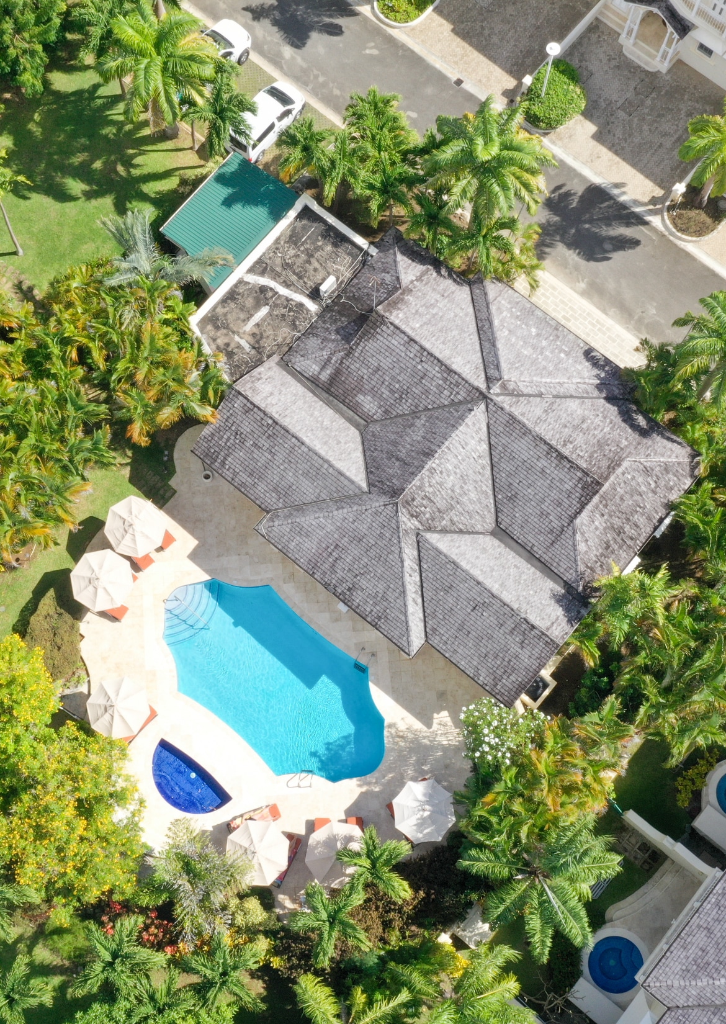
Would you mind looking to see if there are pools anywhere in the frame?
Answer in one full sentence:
Yes, a pool can be made out from above.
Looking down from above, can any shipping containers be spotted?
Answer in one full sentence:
No, there is no shipping container in the image.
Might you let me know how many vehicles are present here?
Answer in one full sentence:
The number of vehicles here is 2.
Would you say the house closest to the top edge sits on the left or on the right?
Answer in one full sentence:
The house closest to the top edge is on the right side of the image.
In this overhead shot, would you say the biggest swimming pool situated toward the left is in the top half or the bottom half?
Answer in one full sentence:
The bottom half of the photo is where the biggest swimming pool situated toward the left is.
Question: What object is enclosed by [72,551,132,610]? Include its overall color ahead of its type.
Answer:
white umbrella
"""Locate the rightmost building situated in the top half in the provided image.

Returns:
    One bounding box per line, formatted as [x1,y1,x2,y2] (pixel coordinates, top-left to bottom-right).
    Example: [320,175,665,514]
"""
[589,0,726,91]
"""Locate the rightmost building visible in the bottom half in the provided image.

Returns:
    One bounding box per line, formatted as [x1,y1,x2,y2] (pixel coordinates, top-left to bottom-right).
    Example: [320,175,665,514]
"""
[596,841,726,1024]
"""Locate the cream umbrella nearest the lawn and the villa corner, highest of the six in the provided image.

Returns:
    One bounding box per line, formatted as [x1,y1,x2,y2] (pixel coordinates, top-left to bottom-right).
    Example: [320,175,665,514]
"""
[106,497,165,556]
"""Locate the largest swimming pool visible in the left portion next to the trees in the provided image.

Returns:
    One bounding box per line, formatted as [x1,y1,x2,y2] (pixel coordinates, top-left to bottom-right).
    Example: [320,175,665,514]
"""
[155,571,392,792]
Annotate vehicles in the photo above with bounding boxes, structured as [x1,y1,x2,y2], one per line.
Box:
[177,20,250,92]
[227,79,304,155]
